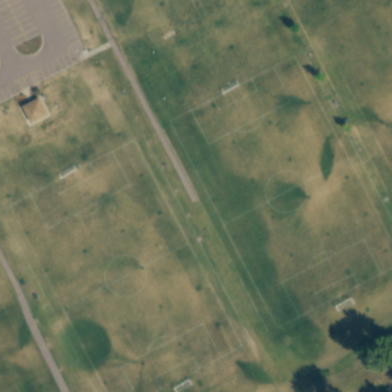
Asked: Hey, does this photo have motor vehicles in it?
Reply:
No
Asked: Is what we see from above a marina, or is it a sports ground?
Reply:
sports ground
